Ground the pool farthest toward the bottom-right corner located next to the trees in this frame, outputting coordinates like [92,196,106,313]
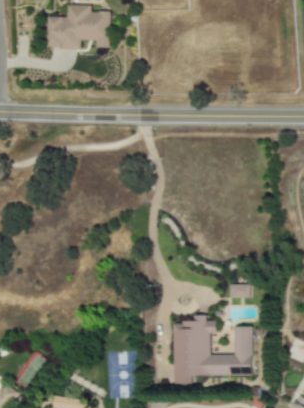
[228,306,258,323]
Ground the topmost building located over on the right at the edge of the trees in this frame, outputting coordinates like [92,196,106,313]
[230,284,254,298]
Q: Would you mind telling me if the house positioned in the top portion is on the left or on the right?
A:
left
